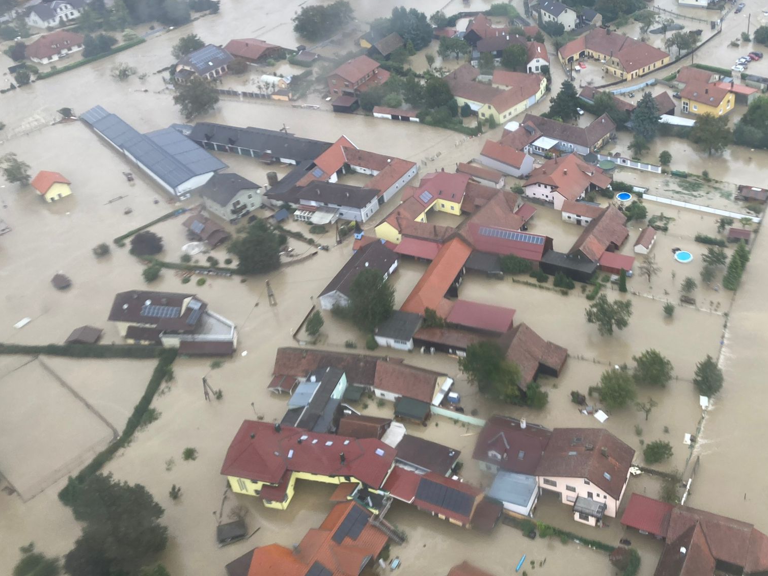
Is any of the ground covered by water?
Yes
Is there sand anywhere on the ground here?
No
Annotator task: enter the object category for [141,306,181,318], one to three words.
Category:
solar array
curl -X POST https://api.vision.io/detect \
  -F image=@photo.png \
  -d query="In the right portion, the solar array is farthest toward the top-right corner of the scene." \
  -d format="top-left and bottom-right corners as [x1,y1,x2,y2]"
[479,227,545,245]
